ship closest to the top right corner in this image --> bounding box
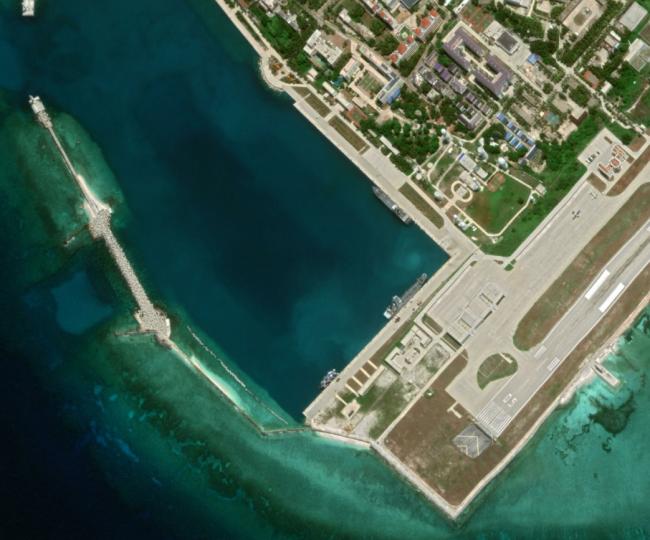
[373,187,413,224]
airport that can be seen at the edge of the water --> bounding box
[414,124,650,459]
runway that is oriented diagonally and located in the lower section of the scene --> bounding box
[476,217,650,437]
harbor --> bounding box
[215,0,480,422]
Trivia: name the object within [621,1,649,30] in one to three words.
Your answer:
building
